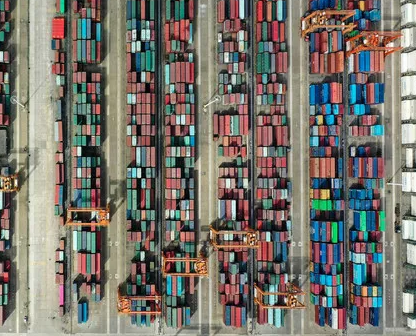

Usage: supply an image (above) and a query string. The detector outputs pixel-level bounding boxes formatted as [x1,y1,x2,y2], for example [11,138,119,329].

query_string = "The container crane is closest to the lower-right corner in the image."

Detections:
[253,282,305,309]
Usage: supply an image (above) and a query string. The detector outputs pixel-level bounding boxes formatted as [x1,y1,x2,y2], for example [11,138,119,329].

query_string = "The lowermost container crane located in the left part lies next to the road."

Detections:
[117,286,162,315]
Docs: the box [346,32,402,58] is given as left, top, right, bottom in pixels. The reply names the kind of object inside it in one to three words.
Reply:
container crane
